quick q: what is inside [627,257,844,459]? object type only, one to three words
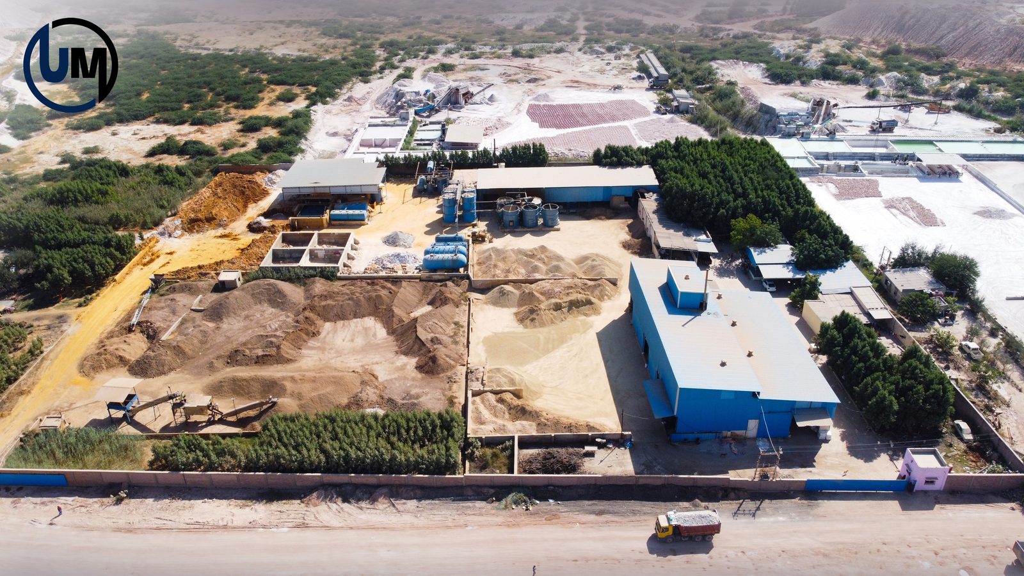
building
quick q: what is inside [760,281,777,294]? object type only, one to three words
vehicle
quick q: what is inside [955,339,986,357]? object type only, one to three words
vehicle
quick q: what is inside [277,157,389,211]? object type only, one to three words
shed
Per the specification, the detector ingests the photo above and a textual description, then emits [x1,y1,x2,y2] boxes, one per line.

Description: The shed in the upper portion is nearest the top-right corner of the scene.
[911,153,968,179]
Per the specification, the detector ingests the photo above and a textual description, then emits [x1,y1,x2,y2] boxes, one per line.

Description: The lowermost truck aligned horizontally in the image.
[652,511,727,542]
